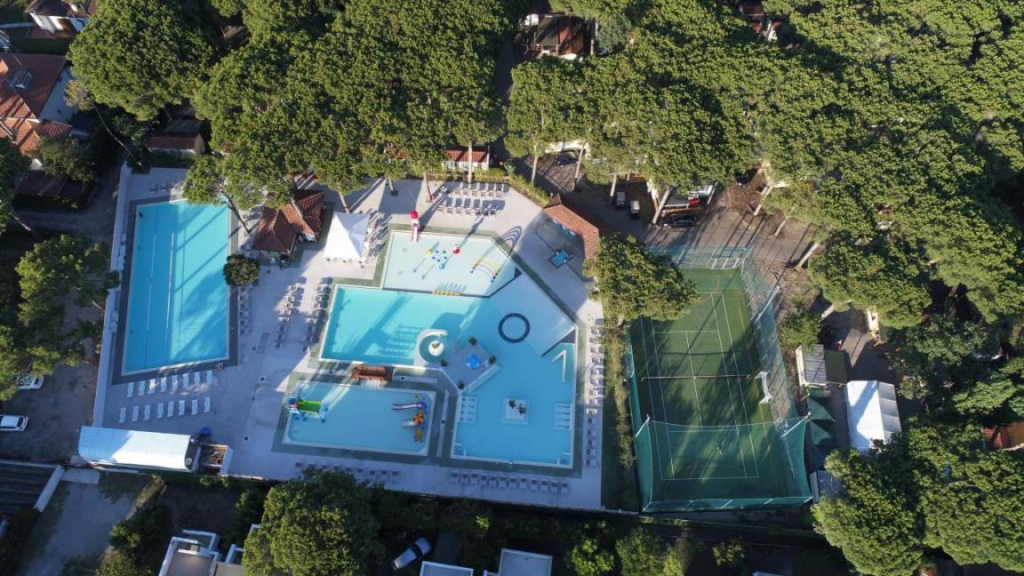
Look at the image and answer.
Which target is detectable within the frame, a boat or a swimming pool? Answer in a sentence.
Visible in the photo is a swimming pool.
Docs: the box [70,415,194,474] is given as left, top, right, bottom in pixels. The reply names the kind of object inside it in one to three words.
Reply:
building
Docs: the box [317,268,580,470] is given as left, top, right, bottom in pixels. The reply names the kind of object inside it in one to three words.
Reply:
swimming pool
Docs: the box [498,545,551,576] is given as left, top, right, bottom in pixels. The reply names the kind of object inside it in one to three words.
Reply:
house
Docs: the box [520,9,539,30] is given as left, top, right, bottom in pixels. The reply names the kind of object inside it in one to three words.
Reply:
camper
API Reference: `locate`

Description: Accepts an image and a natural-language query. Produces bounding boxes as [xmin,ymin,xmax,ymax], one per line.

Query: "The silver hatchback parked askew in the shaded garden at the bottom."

[389,537,432,576]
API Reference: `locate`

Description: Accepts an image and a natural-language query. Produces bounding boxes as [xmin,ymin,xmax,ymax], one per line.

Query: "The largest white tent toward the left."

[325,215,372,267]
